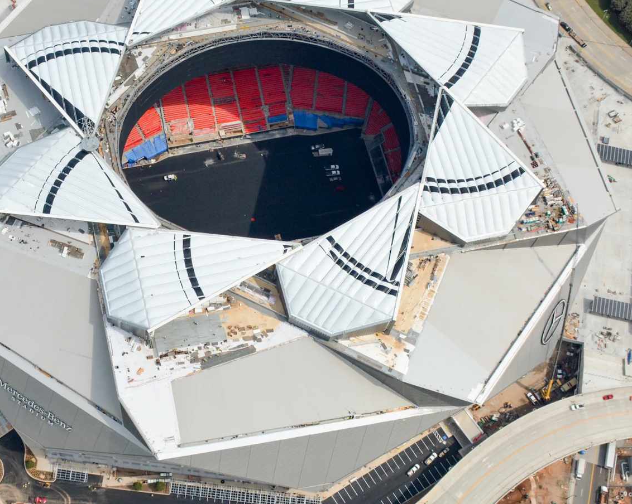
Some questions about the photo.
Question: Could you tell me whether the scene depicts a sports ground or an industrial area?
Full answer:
The area seen from above is a sports ground.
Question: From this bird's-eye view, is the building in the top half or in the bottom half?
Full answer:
The bottom half of the photo is where the building is.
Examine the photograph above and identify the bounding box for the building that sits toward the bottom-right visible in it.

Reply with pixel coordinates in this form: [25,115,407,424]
[441,413,486,453]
